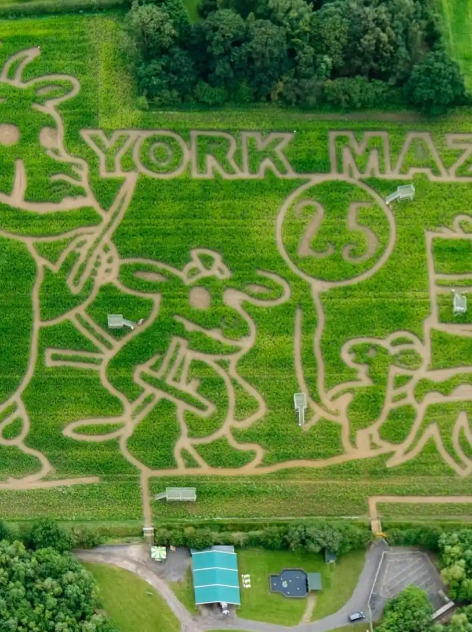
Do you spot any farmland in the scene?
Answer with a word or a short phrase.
Yes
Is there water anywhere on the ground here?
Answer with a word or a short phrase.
No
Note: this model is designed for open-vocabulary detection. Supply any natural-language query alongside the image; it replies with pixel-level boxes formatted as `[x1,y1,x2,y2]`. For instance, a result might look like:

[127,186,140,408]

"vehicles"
[222,604,228,614]
[348,611,365,621]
